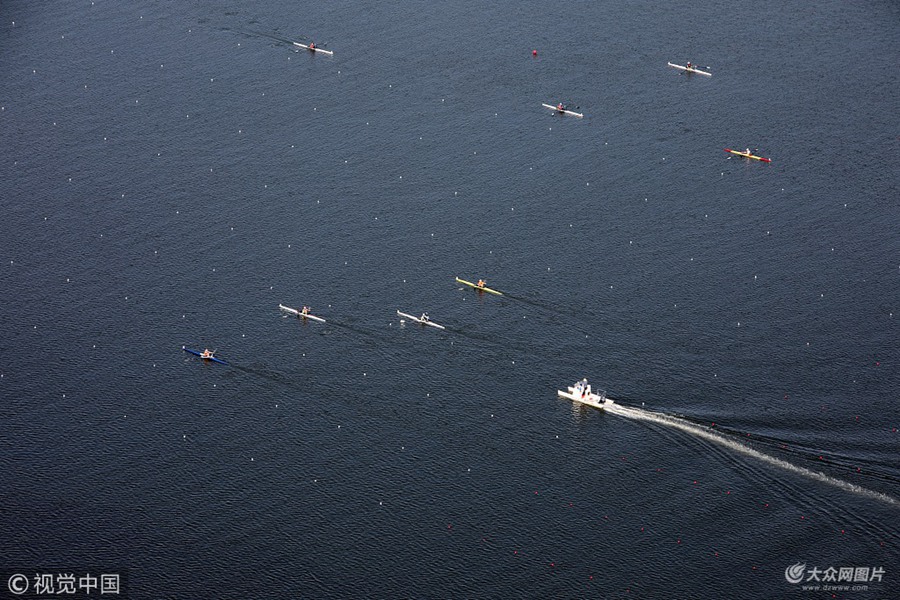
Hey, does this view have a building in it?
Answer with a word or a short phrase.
No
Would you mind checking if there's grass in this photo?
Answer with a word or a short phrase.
No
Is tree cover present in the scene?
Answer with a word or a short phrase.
No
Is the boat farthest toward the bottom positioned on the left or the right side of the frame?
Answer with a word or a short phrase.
right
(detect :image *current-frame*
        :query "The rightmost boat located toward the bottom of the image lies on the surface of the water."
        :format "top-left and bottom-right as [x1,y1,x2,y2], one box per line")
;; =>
[555,387,618,411]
